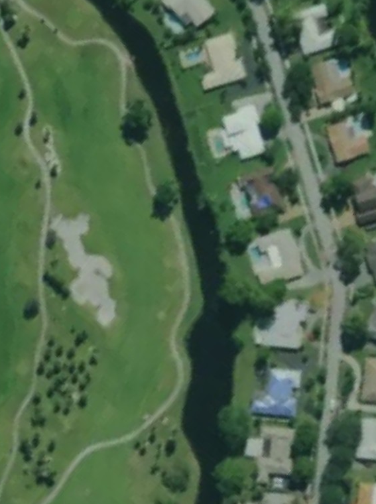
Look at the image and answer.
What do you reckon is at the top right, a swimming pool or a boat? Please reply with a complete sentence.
There is a swimming pool at the top right.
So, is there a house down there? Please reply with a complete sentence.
Yes, the picture does show a house.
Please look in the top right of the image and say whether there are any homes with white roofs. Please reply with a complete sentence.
Yes, looking in the top right of the image, one can make out a home with a white roof.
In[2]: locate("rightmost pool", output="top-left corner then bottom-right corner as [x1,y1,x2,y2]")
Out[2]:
[348,116,373,137]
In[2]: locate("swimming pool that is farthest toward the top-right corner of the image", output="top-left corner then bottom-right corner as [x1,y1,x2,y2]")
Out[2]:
[329,59,351,78]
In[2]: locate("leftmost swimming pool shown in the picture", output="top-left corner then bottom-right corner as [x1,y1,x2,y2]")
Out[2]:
[164,10,184,34]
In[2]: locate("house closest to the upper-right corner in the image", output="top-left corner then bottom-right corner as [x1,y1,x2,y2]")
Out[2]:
[295,0,336,56]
